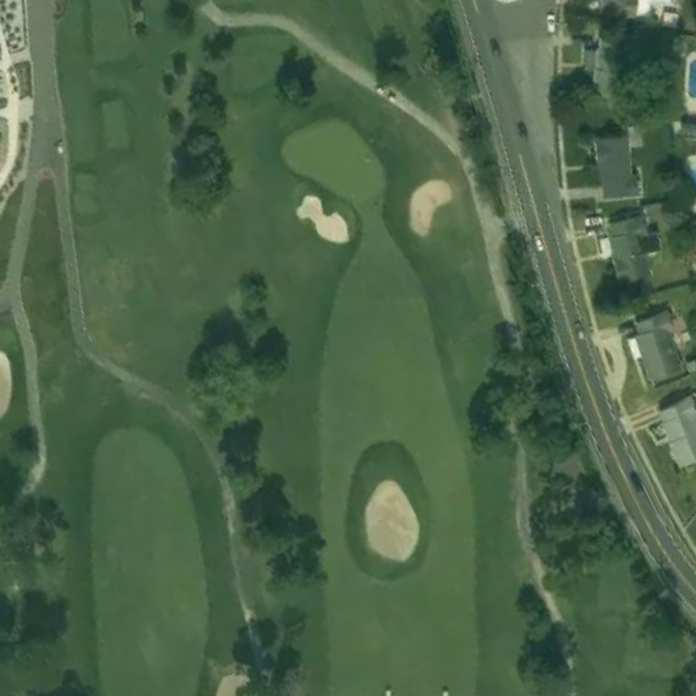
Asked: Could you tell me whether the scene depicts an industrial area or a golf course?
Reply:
golf course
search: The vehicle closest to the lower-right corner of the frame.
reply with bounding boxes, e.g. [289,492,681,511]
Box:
[629,473,643,493]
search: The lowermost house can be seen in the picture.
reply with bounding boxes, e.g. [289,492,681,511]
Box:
[660,395,696,468]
